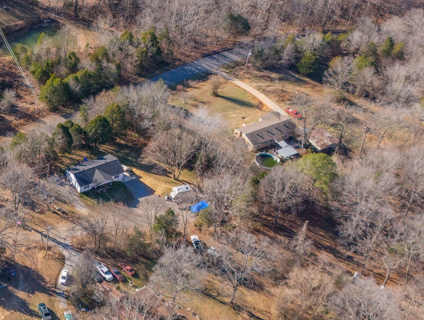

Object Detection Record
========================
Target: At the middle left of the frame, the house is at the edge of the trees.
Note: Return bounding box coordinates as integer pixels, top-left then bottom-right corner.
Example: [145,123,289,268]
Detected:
[67,155,125,195]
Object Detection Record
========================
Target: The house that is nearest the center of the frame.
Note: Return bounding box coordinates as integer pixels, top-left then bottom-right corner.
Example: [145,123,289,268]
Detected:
[233,106,305,159]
